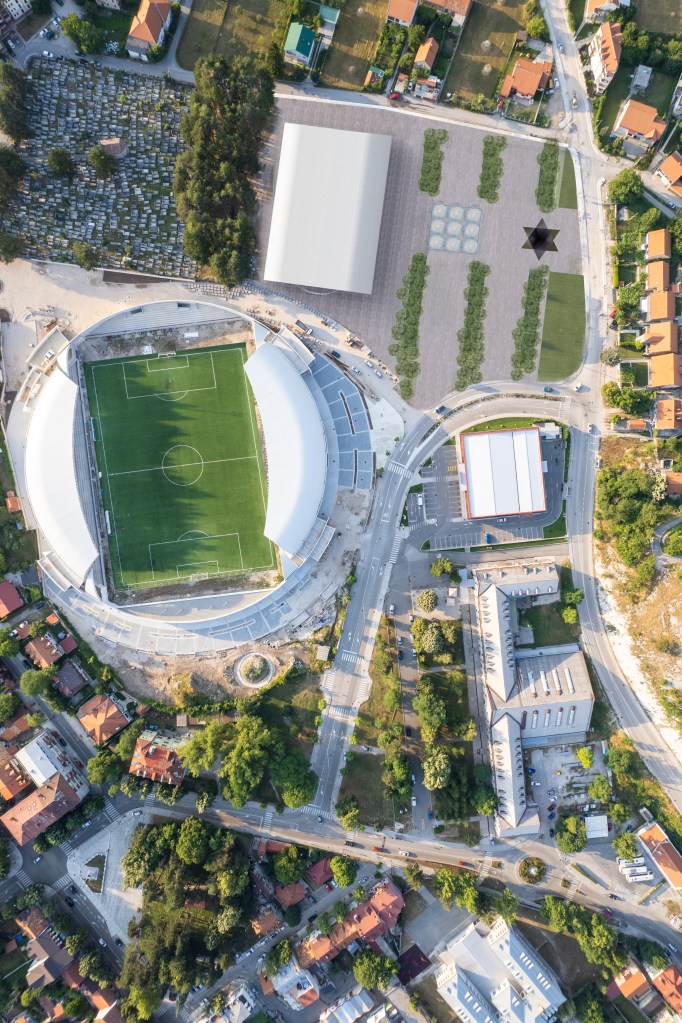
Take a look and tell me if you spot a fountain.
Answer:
Yes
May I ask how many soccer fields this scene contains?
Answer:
1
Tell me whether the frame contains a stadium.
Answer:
Yes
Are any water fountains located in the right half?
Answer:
Yes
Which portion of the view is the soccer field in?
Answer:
left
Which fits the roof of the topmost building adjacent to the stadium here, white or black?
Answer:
white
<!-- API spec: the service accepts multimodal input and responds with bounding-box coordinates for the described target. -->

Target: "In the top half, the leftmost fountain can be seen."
[428,203,482,254]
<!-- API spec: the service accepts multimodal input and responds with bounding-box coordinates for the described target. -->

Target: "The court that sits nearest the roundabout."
[406,887,471,956]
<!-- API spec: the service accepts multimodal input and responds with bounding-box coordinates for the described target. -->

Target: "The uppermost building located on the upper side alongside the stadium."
[264,122,391,295]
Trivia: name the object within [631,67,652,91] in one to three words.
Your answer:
shed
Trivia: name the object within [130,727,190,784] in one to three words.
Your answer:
house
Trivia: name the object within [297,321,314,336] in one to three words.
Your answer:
vehicle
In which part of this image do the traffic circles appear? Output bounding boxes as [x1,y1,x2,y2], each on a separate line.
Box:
[514,852,551,889]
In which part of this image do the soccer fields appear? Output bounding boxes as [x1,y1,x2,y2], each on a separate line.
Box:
[83,343,277,590]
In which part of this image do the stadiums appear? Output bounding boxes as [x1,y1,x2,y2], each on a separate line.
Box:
[9,300,376,656]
